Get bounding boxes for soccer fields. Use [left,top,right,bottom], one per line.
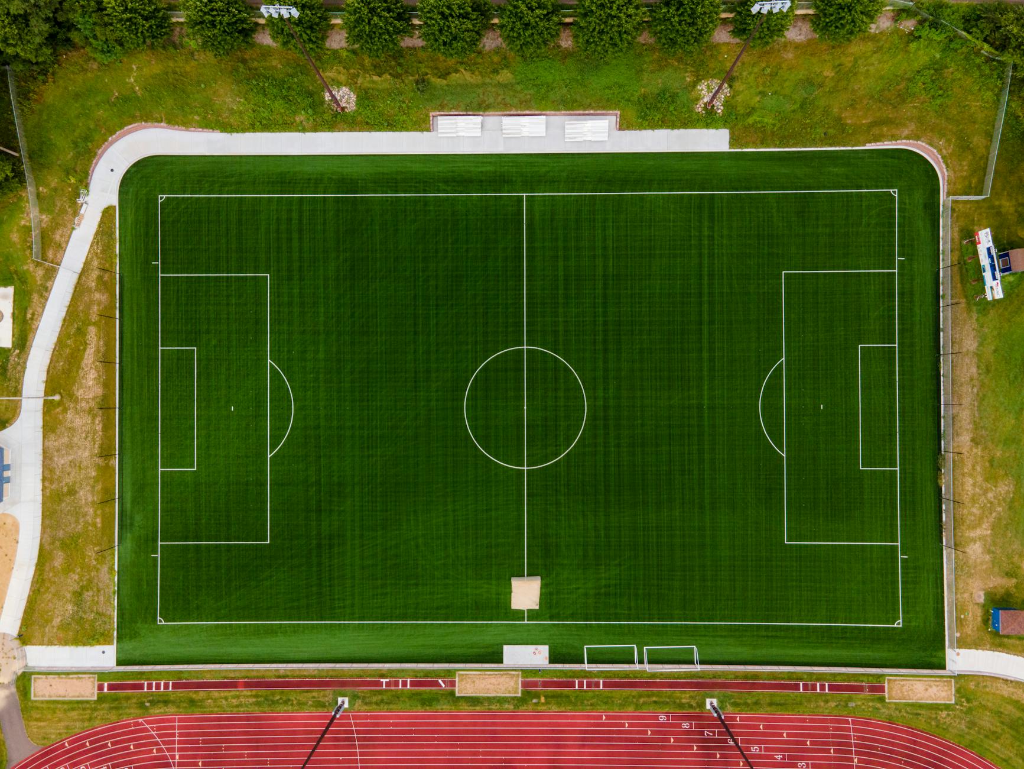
[115,146,949,669]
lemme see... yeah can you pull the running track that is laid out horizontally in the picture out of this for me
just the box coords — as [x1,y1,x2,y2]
[9,710,1002,769]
